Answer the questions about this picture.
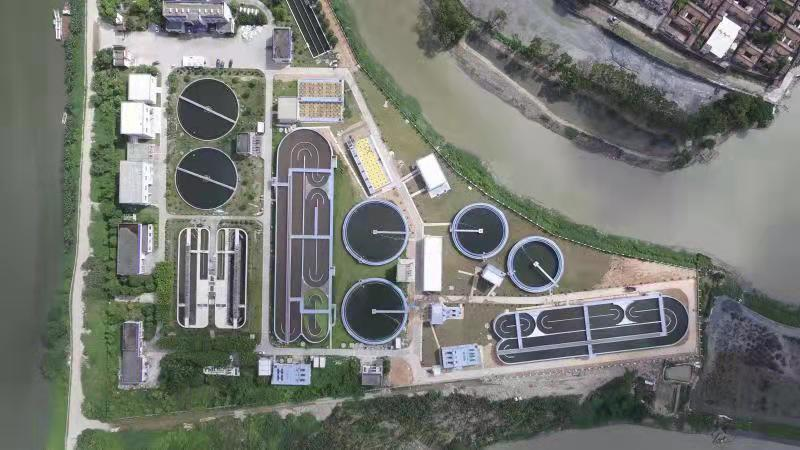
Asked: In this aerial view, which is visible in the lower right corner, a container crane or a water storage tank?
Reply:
water storage tank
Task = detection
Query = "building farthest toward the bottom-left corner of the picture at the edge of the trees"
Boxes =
[120,320,149,388]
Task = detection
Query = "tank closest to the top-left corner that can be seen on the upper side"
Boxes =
[177,78,240,141]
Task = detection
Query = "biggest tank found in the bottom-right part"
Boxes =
[492,293,689,365]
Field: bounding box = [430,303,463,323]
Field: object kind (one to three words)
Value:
house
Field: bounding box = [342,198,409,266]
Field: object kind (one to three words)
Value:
water tank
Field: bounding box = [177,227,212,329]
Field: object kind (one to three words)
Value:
water tank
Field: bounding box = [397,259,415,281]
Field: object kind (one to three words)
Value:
building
